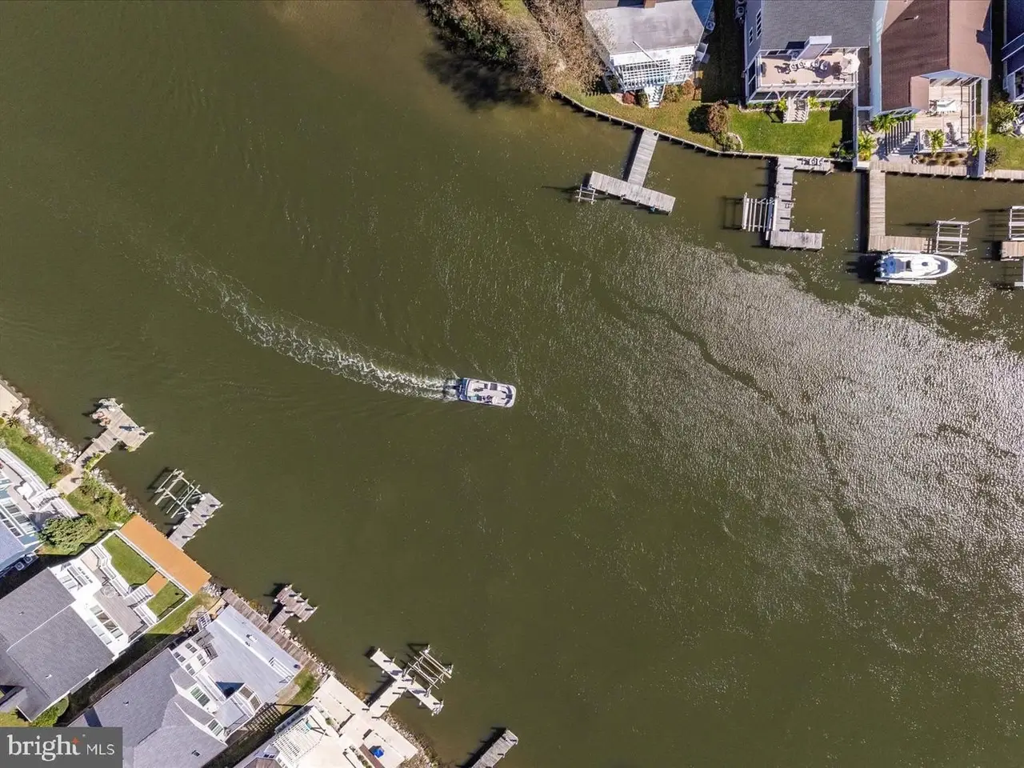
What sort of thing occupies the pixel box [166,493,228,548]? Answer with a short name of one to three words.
pier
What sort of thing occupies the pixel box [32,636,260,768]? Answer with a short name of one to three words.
house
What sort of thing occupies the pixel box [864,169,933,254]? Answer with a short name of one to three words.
pier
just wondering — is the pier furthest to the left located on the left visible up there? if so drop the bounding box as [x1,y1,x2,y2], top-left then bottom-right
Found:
[76,397,158,467]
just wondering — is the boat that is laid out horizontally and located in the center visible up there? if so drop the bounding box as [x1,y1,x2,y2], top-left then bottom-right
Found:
[456,378,516,407]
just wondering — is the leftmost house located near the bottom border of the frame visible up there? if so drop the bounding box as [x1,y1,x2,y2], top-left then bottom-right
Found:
[0,546,138,736]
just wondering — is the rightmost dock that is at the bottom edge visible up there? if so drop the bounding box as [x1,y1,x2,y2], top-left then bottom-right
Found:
[472,724,519,768]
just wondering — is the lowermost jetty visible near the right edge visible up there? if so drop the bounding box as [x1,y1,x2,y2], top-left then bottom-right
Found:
[996,240,1024,261]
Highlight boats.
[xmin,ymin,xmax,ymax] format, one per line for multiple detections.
[871,253,962,280]
[456,378,516,407]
